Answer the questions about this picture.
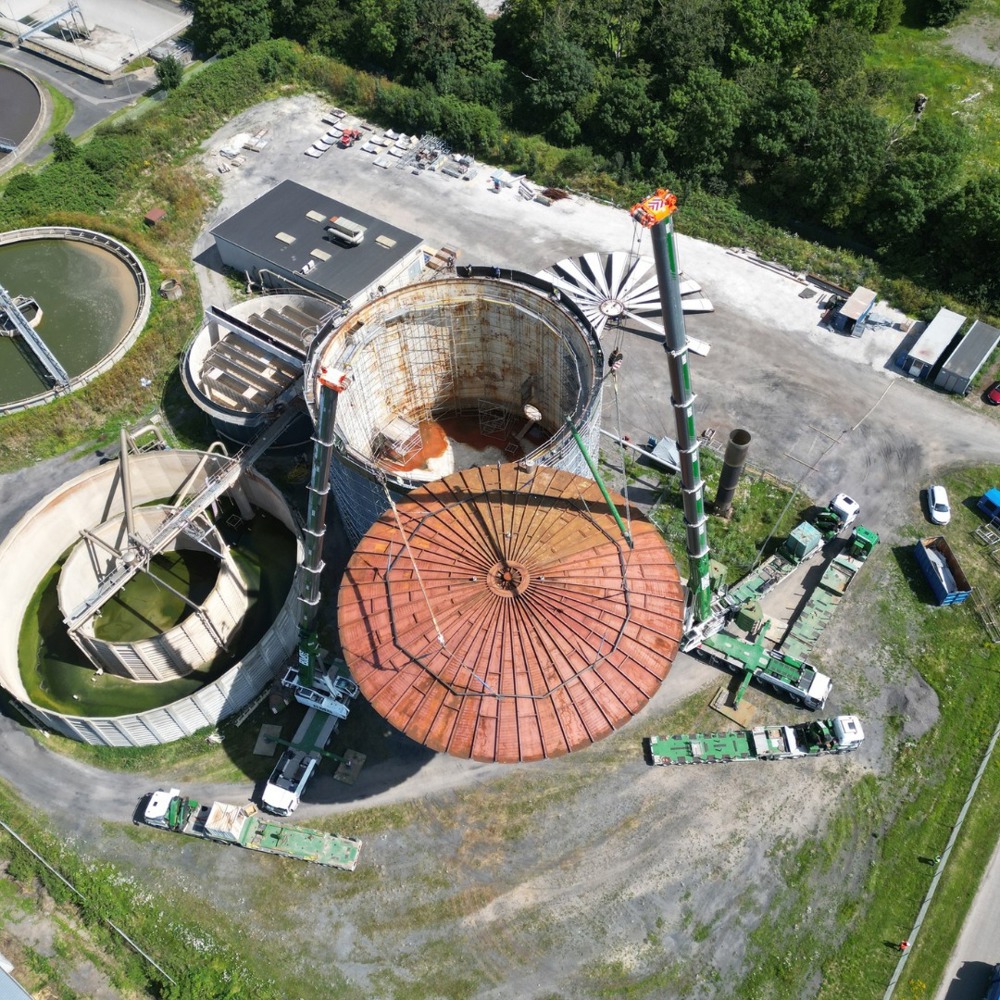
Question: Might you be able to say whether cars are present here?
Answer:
Yes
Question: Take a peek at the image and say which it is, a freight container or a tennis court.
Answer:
freight container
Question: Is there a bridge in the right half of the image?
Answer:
No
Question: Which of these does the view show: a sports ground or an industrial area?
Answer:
industrial area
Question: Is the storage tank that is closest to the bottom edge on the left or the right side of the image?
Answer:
left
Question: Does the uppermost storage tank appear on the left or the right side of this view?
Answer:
left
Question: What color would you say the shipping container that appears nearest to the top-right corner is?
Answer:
white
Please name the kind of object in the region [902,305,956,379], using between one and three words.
building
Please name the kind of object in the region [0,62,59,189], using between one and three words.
storage tank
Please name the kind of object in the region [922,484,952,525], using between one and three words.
car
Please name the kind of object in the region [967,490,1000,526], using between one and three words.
van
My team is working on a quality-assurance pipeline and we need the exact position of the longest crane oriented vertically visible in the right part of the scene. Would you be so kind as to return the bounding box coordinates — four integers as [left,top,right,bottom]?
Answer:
[612,188,822,715]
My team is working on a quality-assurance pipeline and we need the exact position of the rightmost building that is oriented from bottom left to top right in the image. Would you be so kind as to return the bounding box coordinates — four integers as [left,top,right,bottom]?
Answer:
[938,319,1000,394]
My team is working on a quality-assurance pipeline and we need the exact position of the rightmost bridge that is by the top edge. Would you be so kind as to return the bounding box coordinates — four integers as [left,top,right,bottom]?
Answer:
[19,0,99,44]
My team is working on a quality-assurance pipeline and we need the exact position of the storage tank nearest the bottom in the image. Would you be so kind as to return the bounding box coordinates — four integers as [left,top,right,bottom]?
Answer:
[0,425,311,748]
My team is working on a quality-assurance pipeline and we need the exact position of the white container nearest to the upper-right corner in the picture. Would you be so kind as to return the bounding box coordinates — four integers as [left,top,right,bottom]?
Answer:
[831,289,875,342]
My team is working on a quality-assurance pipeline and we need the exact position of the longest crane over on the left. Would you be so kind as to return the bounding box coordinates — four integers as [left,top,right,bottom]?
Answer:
[262,360,381,816]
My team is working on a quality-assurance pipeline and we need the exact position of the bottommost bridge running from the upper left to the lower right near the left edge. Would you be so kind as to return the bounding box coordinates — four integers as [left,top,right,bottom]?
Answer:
[0,298,76,396]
